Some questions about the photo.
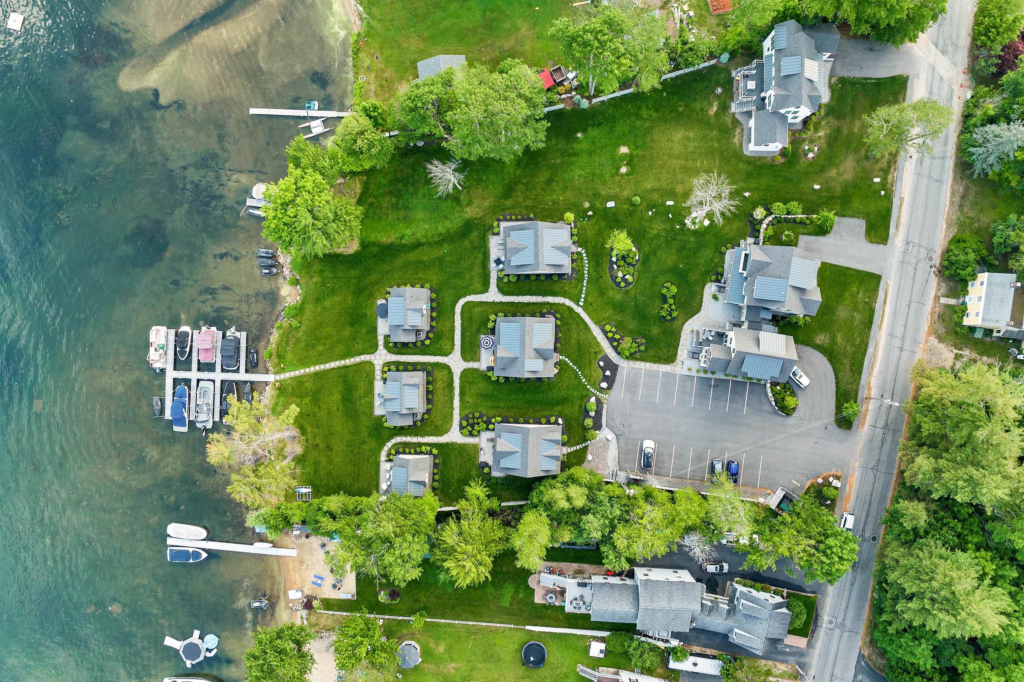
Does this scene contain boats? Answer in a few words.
Yes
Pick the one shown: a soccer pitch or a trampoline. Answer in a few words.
trampoline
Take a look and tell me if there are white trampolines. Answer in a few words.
Yes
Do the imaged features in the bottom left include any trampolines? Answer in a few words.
Yes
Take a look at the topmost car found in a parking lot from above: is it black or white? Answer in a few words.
white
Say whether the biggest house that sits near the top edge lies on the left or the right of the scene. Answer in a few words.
right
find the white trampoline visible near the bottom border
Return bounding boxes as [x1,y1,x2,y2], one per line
[165,628,220,667]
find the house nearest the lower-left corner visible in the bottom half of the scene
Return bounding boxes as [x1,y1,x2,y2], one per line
[393,456,430,498]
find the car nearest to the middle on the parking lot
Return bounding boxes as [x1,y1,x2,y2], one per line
[640,439,656,469]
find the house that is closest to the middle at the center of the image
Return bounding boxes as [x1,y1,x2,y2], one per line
[495,316,556,378]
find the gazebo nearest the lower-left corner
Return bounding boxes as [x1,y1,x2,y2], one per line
[395,641,423,675]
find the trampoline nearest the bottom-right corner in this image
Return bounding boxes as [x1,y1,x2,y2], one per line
[522,642,548,672]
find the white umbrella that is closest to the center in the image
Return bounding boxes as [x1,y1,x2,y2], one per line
[479,335,495,350]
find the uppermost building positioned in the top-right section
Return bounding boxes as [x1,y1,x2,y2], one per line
[730,18,846,149]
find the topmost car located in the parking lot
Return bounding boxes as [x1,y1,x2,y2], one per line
[790,364,814,392]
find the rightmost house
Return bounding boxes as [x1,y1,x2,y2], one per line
[960,266,1024,343]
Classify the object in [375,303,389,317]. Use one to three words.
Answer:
umbrella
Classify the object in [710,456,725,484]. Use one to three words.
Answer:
car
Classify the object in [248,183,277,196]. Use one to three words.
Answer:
boat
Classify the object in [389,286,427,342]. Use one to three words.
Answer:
house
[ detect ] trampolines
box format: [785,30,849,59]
[522,642,548,672]
[165,628,220,667]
